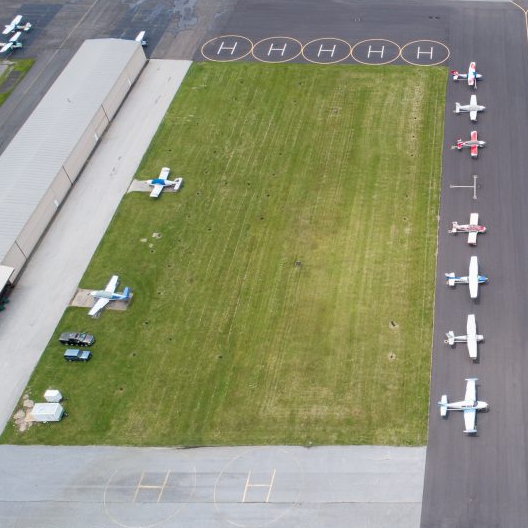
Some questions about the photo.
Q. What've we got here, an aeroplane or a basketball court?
aeroplane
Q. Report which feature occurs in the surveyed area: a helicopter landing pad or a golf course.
helicopter landing pad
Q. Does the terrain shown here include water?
No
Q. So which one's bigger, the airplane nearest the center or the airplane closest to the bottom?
the airplane closest to the bottom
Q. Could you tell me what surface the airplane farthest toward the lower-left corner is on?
grass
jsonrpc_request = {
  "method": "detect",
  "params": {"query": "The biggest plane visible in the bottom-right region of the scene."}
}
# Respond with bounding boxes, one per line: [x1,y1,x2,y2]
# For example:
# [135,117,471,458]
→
[440,379,488,431]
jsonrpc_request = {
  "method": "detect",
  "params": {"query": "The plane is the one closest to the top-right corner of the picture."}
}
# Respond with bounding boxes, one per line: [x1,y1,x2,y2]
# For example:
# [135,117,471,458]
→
[452,62,483,84]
